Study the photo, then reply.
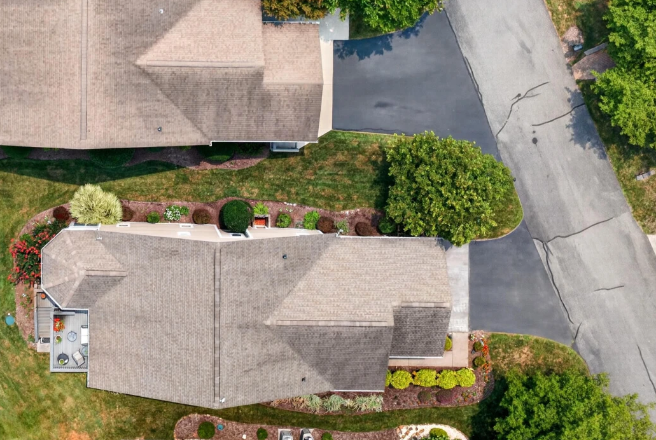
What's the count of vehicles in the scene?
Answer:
0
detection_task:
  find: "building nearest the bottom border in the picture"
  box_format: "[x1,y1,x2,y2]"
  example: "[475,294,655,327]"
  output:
[39,223,452,409]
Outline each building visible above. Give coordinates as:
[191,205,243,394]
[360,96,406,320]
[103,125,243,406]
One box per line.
[39,223,452,409]
[0,0,324,157]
